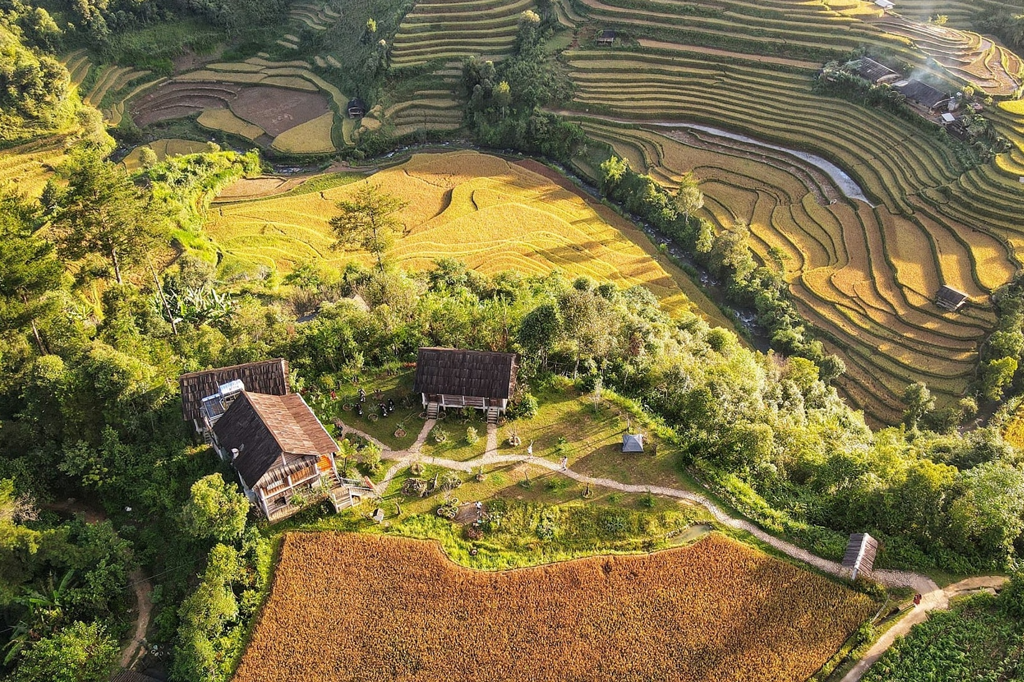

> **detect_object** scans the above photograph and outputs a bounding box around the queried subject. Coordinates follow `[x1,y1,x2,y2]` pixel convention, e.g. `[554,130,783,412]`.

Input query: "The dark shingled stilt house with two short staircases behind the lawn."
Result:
[413,346,519,431]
